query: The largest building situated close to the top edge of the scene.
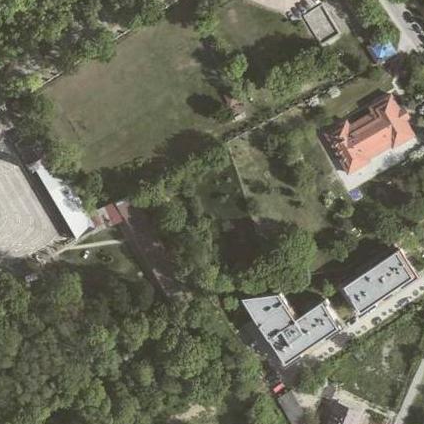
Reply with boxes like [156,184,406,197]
[304,4,339,42]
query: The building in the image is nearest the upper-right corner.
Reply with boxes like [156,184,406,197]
[369,42,398,62]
